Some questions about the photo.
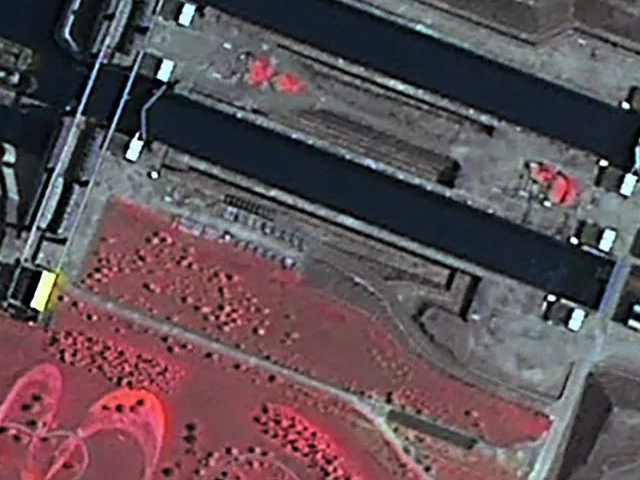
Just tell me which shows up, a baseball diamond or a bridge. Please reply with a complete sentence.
I can see a bridge in this picture.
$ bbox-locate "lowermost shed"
[386,407,479,451]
